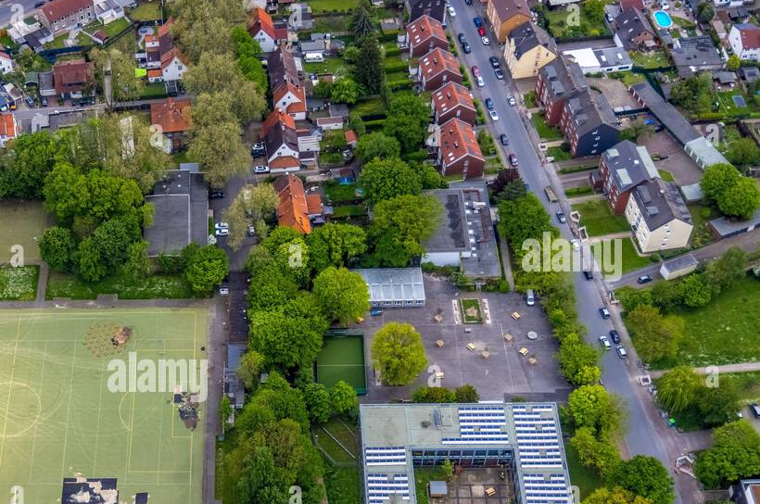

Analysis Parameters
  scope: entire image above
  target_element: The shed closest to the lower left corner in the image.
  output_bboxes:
[225,373,245,405]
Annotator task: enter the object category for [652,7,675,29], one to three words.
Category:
swimming pool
